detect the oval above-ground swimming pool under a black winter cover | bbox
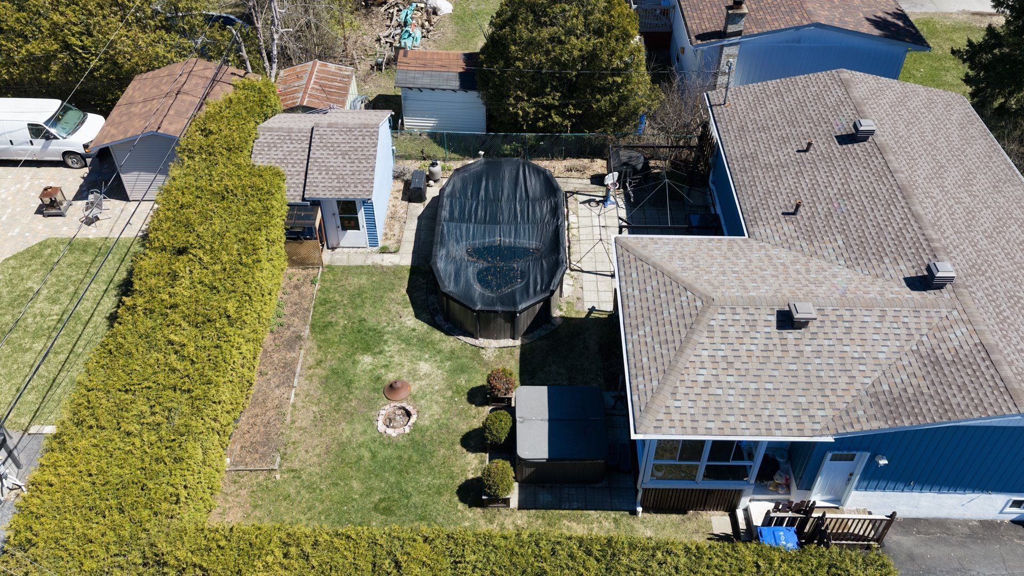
[430,157,568,342]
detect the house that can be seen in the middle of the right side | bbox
[607,58,1024,522]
